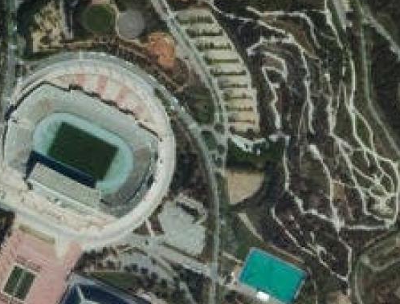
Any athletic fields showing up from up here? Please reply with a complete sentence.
Yes, this view includes an athletic field.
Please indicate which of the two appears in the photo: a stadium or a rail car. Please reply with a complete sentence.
Visible in the photo is a stadium.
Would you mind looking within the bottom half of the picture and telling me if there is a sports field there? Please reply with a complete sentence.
Yes, looking within the bottom half of the picture, one can make out a sports field.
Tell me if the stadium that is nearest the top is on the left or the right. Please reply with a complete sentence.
It is on the left.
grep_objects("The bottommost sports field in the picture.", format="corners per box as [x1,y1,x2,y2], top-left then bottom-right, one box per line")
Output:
[239,249,306,304]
